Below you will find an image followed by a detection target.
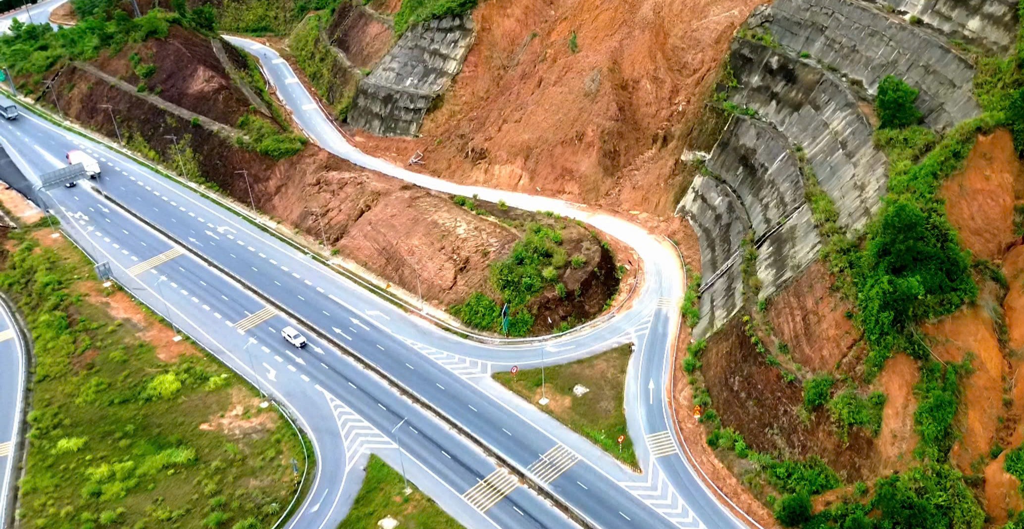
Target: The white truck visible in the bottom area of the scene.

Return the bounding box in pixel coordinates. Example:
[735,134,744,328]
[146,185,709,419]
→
[283,325,312,348]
